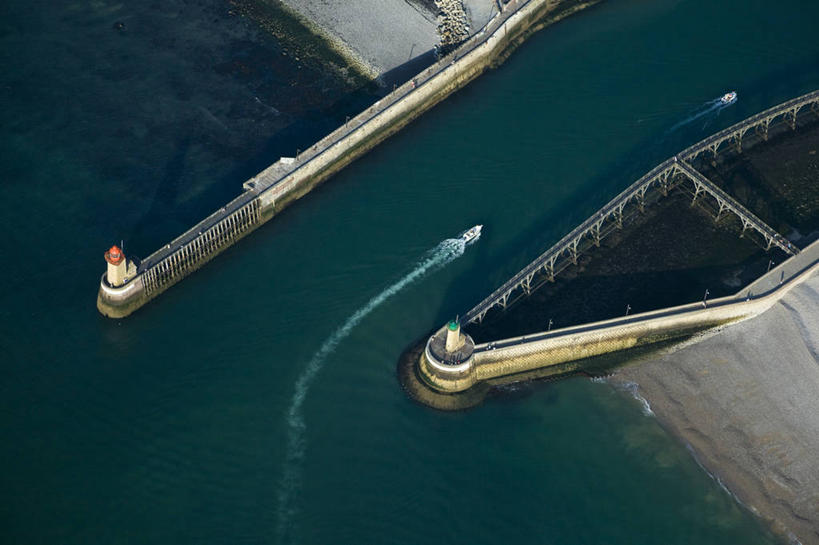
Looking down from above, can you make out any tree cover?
No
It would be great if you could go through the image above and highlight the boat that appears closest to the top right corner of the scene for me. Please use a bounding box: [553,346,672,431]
[720,91,736,103]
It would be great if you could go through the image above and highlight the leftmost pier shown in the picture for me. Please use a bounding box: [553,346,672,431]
[96,0,569,319]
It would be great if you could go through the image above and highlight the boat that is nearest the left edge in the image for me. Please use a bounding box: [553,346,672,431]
[461,222,482,242]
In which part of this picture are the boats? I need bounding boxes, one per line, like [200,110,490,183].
[720,91,736,103]
[461,222,482,242]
